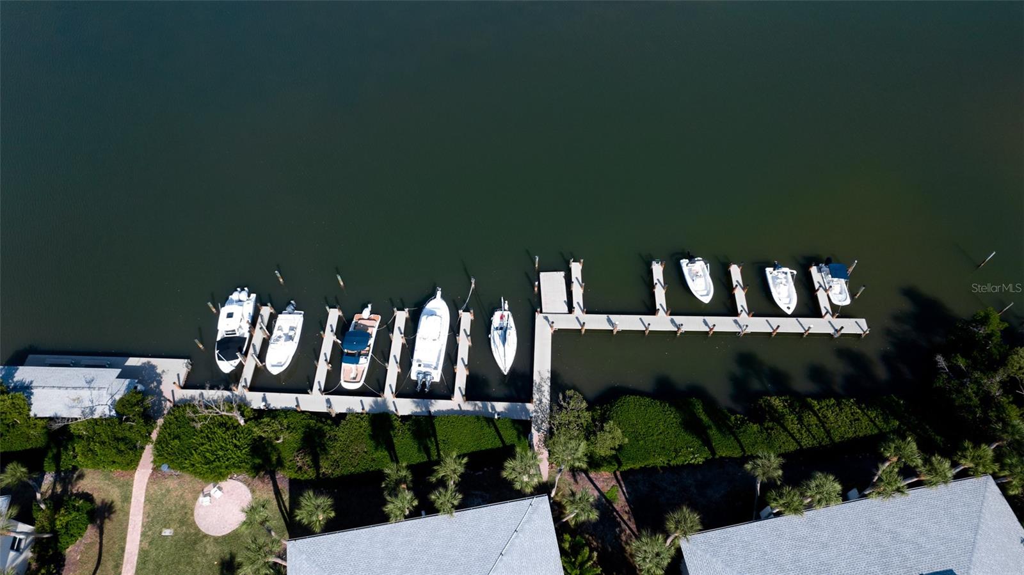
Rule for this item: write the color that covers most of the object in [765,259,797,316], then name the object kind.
white boat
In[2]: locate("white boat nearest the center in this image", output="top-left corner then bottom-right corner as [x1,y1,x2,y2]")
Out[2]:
[489,299,520,377]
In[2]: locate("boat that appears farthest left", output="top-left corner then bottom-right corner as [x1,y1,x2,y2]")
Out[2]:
[217,288,256,376]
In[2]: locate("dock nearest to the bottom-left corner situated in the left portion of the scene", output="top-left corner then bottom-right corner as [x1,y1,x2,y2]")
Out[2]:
[170,303,533,421]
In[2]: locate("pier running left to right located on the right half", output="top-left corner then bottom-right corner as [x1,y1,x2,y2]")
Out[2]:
[531,258,870,432]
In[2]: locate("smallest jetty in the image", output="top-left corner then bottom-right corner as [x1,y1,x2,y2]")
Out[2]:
[540,272,568,313]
